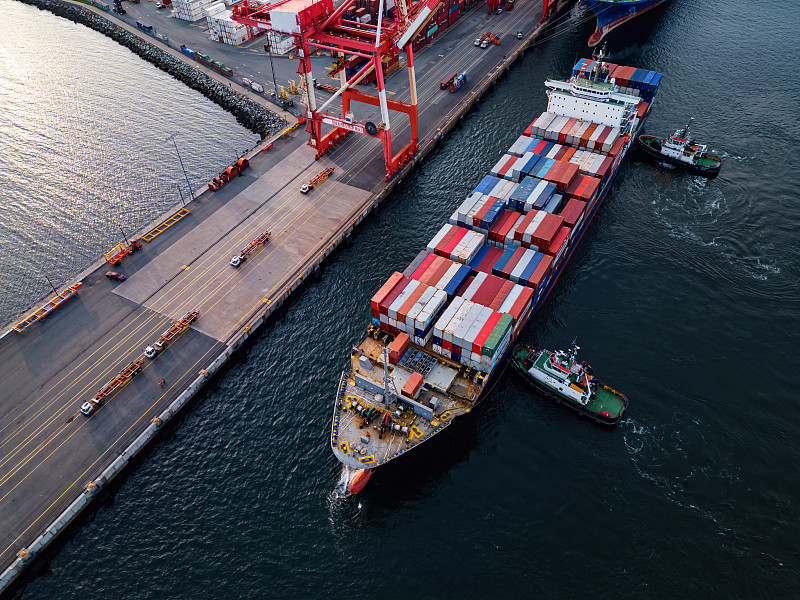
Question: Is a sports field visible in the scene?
No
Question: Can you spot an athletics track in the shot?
No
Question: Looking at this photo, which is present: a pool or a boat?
boat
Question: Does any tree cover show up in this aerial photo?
No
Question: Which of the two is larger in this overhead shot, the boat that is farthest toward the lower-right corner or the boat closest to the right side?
the boat that is farthest toward the lower-right corner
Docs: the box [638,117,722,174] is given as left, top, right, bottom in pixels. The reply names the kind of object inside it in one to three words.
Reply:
boat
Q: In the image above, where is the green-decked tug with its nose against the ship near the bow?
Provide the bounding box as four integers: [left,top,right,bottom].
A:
[509,339,635,426]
